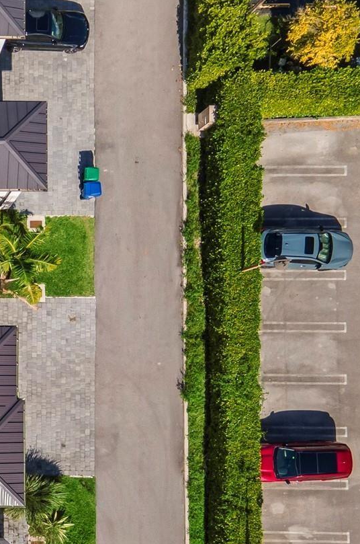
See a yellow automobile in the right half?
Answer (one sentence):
No, I see no yellow automobile in the right half.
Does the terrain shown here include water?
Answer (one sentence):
No, water can't be seen anywhere here.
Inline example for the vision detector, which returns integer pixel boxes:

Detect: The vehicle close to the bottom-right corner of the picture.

[261,439,351,486]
